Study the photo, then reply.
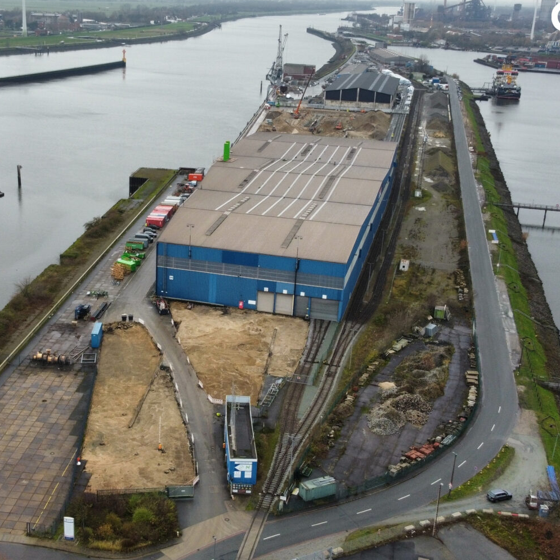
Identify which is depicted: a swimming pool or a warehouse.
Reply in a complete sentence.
The one in the frame is a warehouse.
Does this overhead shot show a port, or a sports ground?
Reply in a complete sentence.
The picture captures a port.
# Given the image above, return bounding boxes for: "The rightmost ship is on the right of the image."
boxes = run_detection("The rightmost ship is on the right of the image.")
[496,47,522,99]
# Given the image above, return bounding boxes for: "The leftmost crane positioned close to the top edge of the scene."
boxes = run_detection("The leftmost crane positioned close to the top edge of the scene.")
[264,24,289,101]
